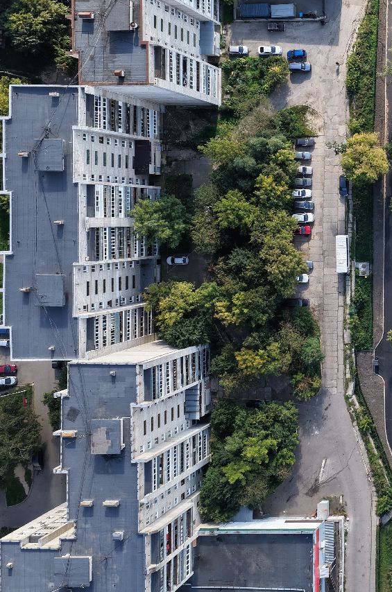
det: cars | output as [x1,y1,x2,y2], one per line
[293,201,316,210]
[0,326,11,337]
[301,260,315,269]
[292,176,314,187]
[258,44,282,55]
[227,44,249,54]
[294,136,317,147]
[0,338,11,348]
[294,149,314,160]
[289,273,310,282]
[292,226,314,235]
[289,62,312,71]
[293,188,315,198]
[0,364,19,373]
[167,255,190,266]
[293,212,315,223]
[295,165,315,175]
[287,47,307,58]
[0,376,19,384]
[338,176,349,196]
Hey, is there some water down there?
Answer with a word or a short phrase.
No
